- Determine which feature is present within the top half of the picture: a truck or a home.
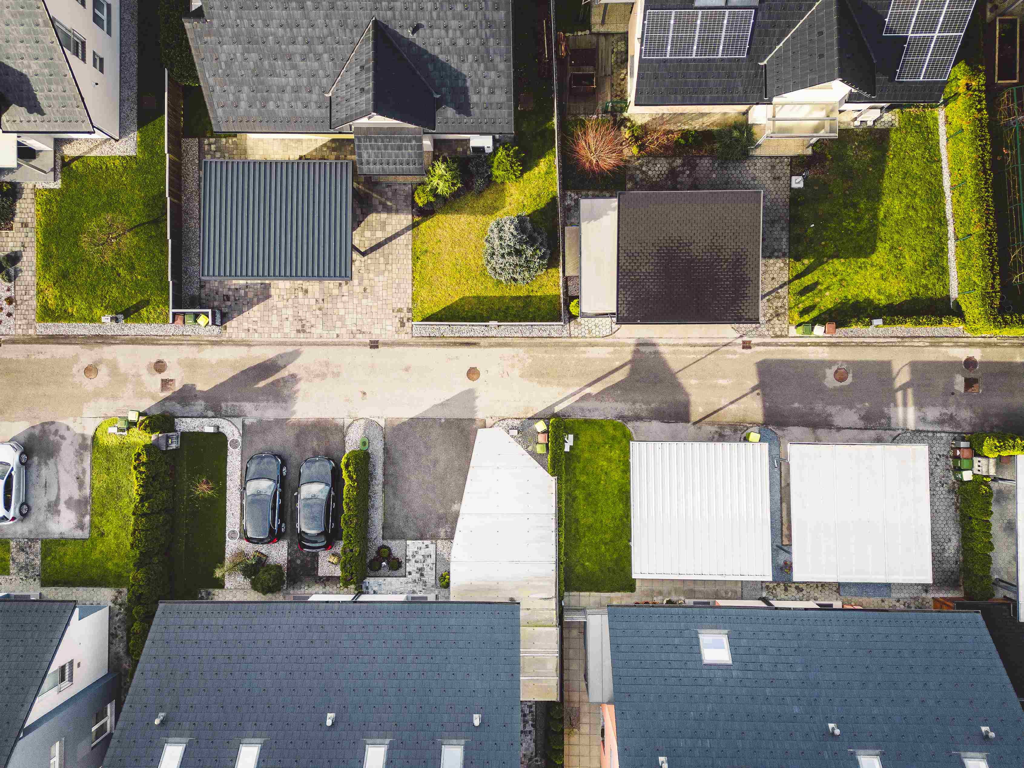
home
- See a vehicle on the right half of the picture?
No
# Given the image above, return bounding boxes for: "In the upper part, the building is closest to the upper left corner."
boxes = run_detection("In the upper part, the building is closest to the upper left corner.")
[0,0,120,174]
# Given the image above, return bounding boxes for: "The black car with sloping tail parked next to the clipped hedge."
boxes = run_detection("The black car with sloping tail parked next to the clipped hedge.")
[295,455,341,551]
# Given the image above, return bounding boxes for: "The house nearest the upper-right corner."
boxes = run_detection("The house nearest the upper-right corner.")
[628,0,983,144]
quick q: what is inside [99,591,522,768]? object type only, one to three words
house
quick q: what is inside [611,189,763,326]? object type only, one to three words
building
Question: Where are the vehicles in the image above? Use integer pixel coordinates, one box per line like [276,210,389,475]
[0,441,32,526]
[240,452,289,545]
[295,455,341,551]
